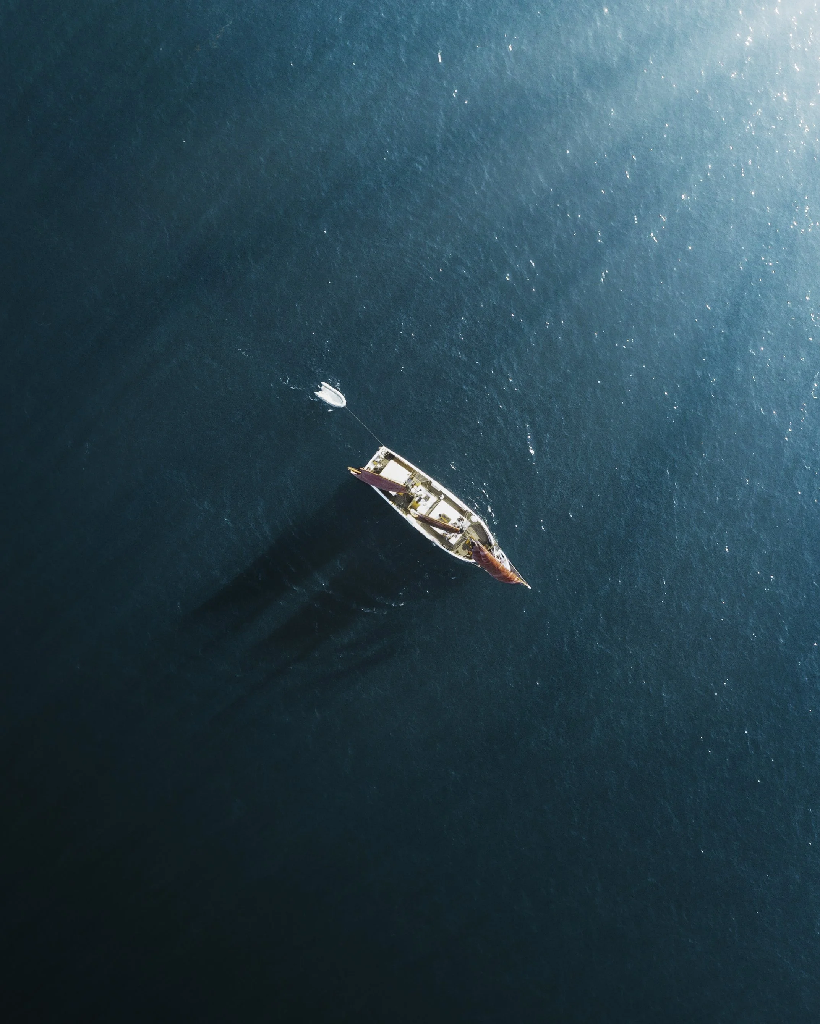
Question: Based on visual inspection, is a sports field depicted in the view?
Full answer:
No, the frame has no sports field in it.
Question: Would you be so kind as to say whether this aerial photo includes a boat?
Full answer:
Yes, the image includes a boat.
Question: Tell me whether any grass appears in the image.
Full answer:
No, the scene doesn't show any grass.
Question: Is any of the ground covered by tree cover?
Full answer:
No, tree cover can't be seen anywhere here.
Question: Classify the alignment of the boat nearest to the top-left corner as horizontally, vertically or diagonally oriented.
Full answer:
In this picture, the boat nearest to the top-left corner is oriented diagonally.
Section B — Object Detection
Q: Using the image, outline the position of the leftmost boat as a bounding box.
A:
[316,382,346,408]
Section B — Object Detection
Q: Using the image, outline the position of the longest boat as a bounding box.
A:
[345,445,531,589]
